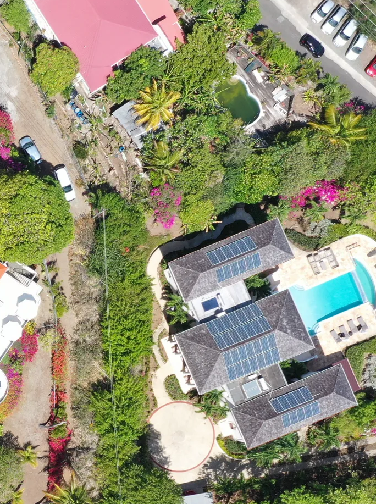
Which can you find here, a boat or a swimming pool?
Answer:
swimming pool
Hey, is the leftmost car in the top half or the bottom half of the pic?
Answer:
top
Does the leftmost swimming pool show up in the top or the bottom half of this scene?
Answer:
top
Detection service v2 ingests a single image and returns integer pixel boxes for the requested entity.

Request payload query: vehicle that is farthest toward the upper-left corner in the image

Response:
[20,134,43,164]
